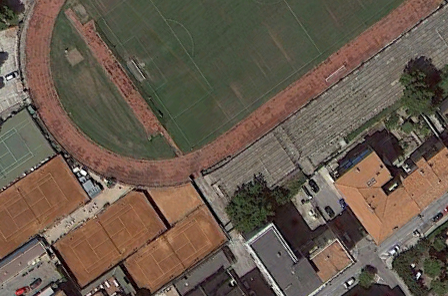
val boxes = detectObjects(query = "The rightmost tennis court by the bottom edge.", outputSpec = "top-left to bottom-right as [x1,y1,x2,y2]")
[126,205,228,291]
